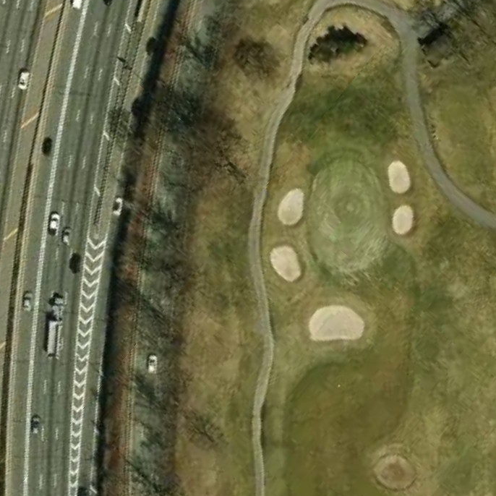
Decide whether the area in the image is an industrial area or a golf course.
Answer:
golf course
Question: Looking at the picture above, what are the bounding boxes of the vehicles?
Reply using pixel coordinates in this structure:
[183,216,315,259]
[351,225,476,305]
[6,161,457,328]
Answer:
[132,98,142,118]
[42,137,51,155]
[78,486,86,496]
[113,195,122,215]
[72,0,81,7]
[23,291,32,310]
[147,36,157,55]
[32,415,40,433]
[147,354,156,372]
[18,69,28,88]
[49,214,59,232]
[47,294,63,359]
[61,228,70,245]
